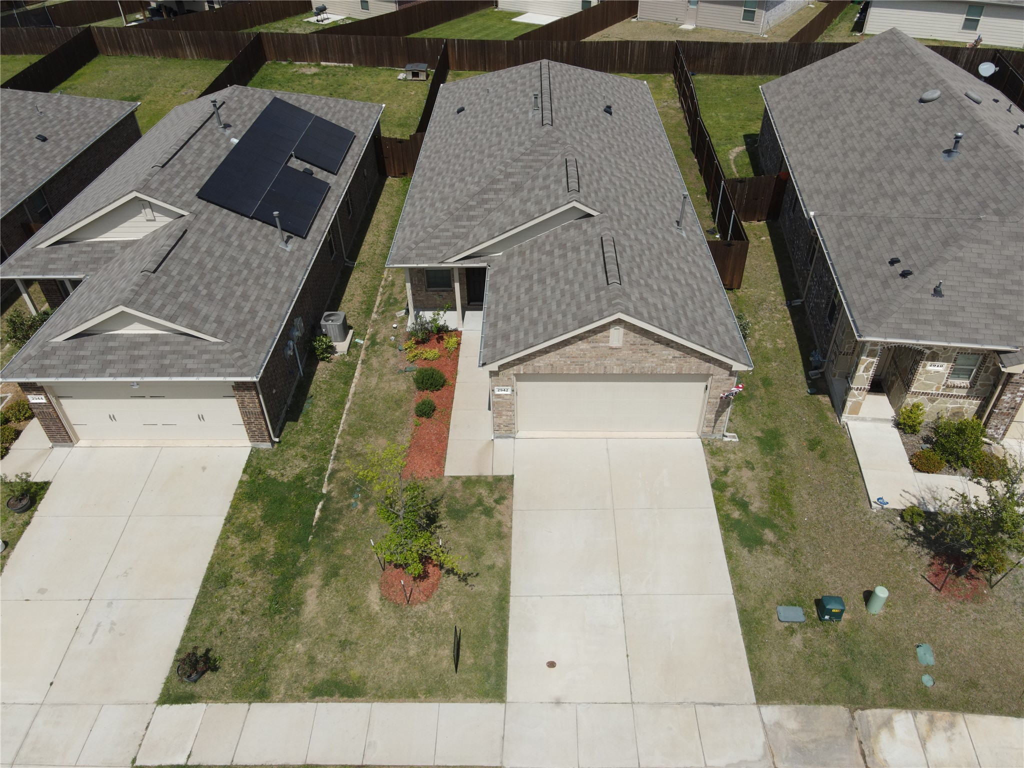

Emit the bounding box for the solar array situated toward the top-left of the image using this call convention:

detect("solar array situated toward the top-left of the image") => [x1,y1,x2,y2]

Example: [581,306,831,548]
[197,94,359,237]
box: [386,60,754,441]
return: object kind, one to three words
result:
house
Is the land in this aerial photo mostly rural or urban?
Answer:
urban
